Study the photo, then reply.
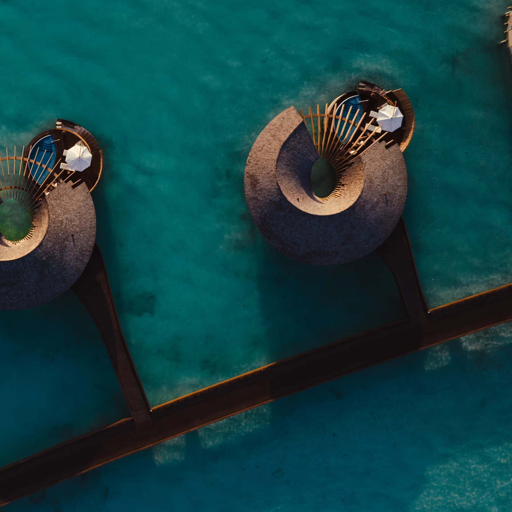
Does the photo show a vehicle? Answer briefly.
No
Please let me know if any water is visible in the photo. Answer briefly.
Yes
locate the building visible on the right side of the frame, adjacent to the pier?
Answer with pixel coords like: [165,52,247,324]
[243,106,407,265]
